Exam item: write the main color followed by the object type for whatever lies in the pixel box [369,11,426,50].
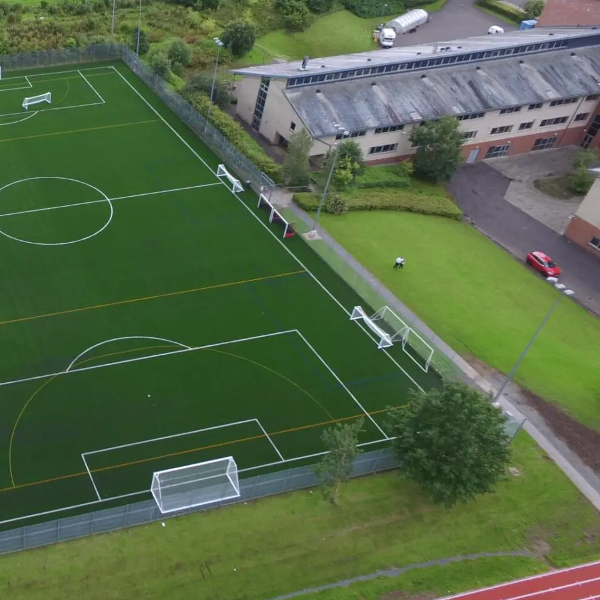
white truck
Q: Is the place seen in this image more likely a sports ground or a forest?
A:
sports ground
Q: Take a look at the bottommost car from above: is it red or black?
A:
red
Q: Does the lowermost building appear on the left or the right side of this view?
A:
right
